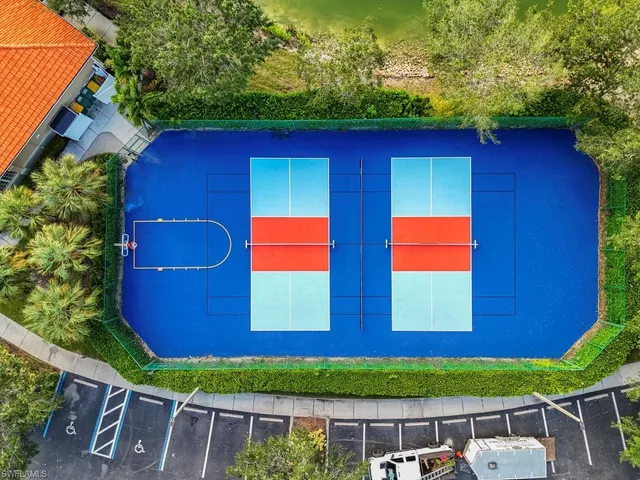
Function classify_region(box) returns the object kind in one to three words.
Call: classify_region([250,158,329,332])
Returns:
sports court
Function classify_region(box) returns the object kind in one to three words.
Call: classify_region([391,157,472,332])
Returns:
sports court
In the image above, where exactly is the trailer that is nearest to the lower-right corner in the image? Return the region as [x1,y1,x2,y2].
[452,433,554,480]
